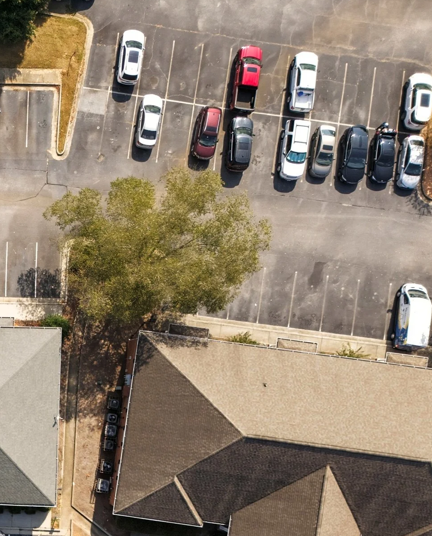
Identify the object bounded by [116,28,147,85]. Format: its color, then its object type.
white car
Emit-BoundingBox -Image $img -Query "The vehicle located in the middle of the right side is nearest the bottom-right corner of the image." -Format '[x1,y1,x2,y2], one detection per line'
[392,282,432,349]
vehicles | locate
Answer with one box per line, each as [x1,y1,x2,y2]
[191,104,224,161]
[337,123,373,186]
[278,117,313,183]
[223,116,257,173]
[231,44,266,115]
[369,128,402,185]
[402,72,432,130]
[395,133,429,191]
[392,282,432,349]
[116,28,147,85]
[135,94,164,150]
[307,124,339,180]
[288,50,323,114]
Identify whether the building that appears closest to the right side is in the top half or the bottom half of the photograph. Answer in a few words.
bottom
